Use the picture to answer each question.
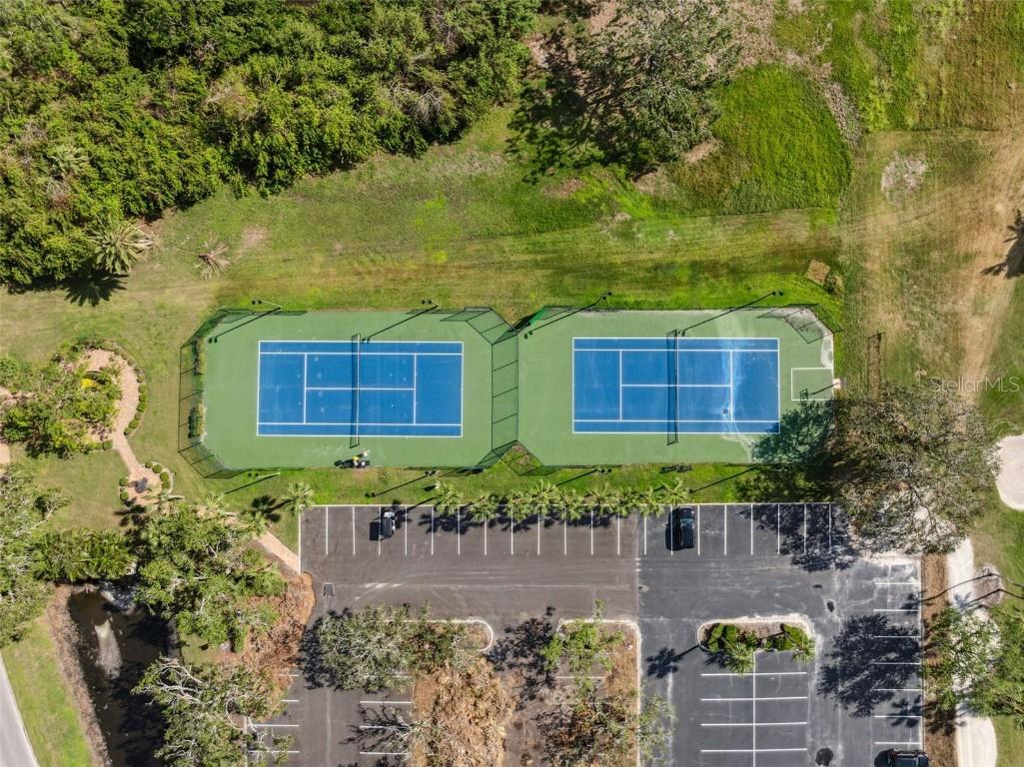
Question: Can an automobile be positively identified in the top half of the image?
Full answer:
No, no automobile is visible in the top half of the image.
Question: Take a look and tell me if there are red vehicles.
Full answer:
No, no red vehicle is visible in the view.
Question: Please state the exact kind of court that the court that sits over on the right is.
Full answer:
The court that sits over on the right in the image is a tennis court.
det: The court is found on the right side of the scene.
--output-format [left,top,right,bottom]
[518,307,833,466]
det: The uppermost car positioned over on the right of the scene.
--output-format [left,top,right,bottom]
[678,508,699,550]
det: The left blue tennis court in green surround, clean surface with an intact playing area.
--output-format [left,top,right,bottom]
[204,309,517,469]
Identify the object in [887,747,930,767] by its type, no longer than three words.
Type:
car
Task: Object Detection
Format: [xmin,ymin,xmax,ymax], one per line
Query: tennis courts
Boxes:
[204,309,517,469]
[518,307,833,466]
